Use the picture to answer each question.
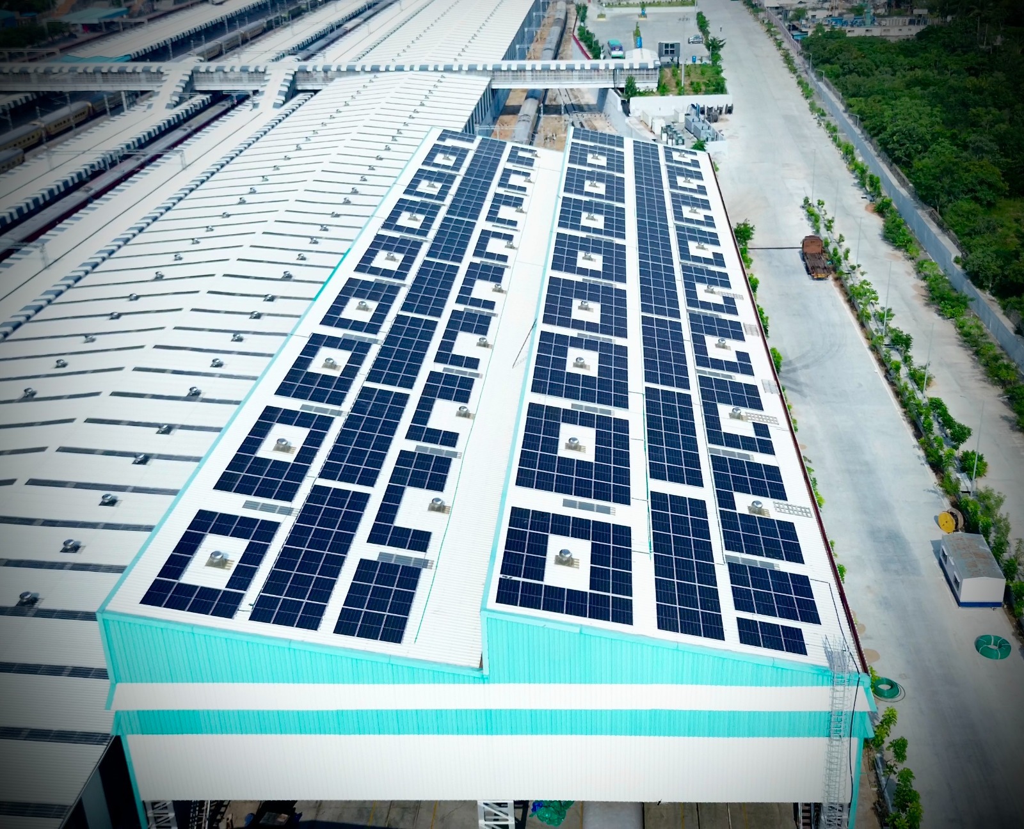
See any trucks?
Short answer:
Yes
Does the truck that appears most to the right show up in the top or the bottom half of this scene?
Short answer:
top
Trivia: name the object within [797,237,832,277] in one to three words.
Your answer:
truck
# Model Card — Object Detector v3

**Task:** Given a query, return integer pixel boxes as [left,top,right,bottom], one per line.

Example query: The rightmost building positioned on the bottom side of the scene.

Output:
[938,531,1010,608]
